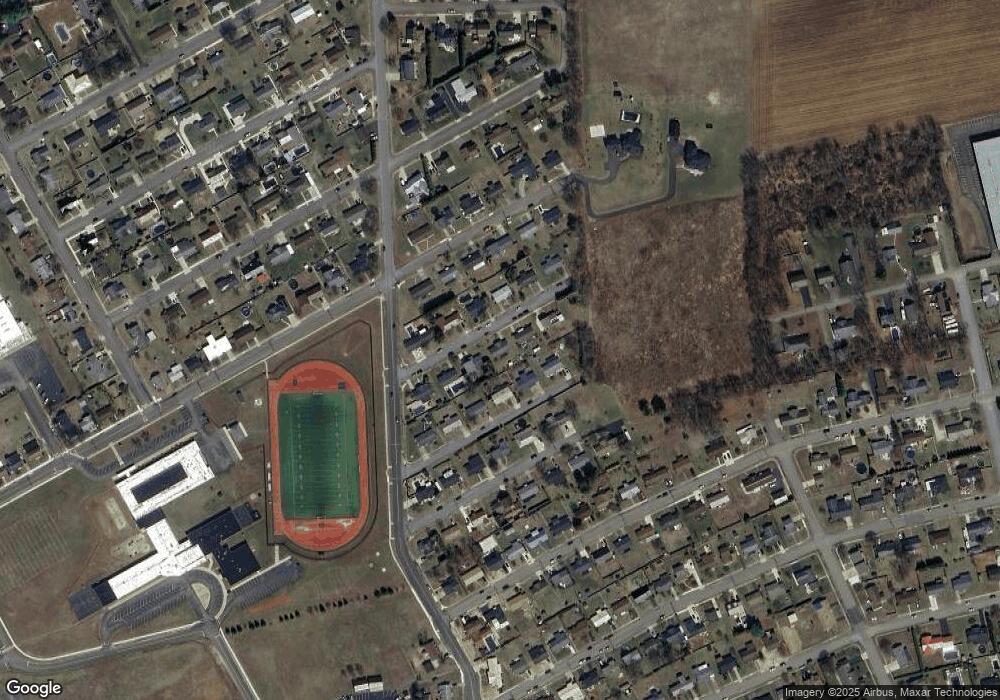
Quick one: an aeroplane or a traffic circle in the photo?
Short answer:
traffic circle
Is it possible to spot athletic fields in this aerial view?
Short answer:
Yes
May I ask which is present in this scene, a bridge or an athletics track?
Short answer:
athletics track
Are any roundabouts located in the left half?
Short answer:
Yes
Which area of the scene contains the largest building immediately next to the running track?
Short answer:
bottom left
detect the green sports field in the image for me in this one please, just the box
[281,392,360,518]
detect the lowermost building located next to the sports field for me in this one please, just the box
[68,441,262,620]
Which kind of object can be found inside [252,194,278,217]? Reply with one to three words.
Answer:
house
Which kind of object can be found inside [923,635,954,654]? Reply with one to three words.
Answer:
house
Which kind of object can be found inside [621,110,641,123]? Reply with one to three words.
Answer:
swimming pool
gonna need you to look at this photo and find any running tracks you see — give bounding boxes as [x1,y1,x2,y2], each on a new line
[268,356,373,555]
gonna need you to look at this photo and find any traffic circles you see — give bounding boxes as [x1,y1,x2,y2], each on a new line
[183,571,230,632]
